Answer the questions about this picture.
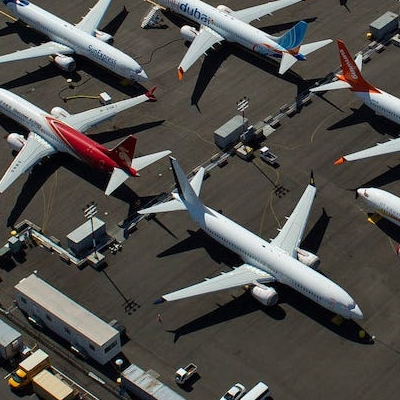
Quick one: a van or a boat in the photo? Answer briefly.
van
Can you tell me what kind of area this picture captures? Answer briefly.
airport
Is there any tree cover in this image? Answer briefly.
No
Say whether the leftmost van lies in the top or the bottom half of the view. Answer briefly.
bottom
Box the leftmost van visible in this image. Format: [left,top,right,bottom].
[7,349,46,392]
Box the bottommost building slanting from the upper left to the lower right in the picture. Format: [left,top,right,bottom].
[15,274,125,358]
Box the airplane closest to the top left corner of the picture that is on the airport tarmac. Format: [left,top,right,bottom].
[0,0,145,79]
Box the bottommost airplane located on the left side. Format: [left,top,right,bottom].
[0,86,172,194]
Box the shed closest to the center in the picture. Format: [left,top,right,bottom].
[212,114,248,149]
